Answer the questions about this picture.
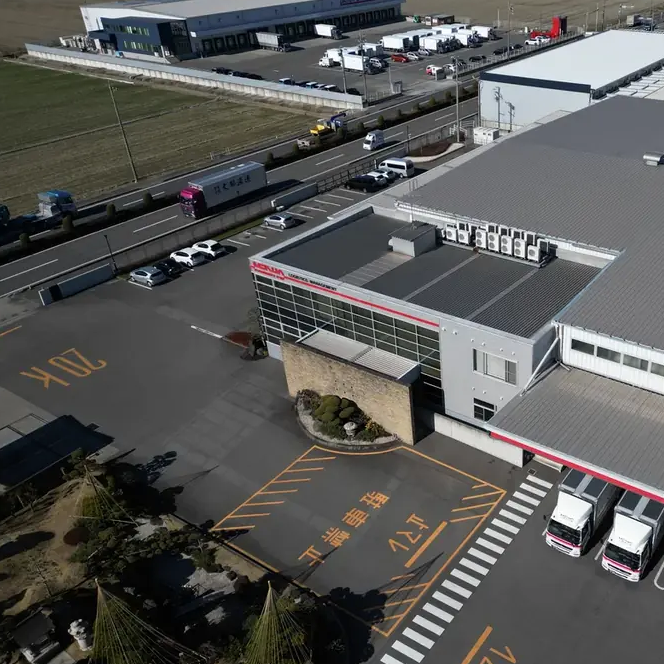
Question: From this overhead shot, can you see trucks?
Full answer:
Yes, this view includes a truck.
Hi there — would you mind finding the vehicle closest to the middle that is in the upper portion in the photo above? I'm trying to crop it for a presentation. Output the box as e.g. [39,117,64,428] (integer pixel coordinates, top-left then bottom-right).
[260,213,293,230]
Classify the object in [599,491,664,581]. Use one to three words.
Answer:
truck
